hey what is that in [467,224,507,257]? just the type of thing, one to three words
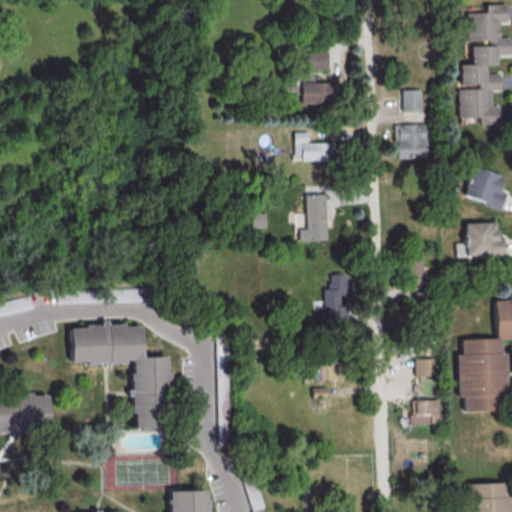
house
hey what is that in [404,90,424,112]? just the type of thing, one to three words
building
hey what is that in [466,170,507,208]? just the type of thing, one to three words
house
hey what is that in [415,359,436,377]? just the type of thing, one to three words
building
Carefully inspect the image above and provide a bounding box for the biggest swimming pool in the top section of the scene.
[258,134,273,149]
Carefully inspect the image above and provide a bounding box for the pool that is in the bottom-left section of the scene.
[113,432,166,456]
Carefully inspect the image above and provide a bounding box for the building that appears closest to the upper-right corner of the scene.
[460,5,512,126]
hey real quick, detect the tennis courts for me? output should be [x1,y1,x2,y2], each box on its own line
[106,456,179,490]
